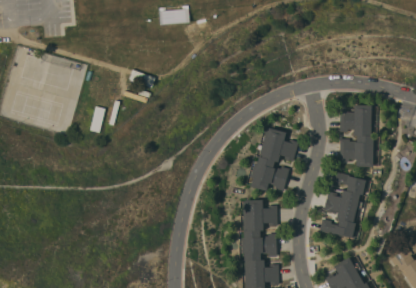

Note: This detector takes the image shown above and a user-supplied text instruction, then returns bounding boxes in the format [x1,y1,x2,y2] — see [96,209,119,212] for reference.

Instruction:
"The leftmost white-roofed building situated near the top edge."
[160,6,190,26]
